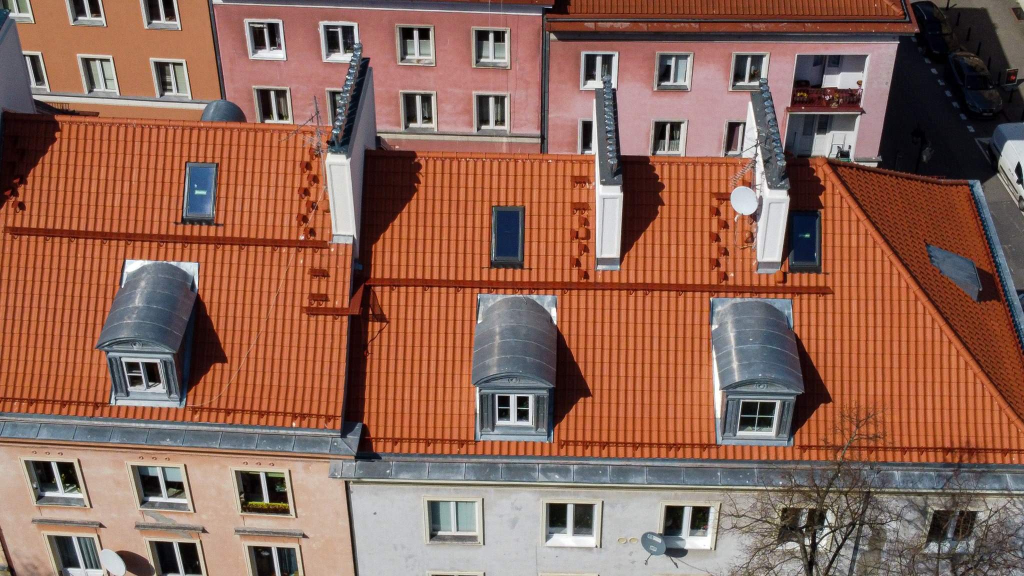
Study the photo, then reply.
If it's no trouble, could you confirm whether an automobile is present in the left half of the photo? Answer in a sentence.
No, there's no automobile to be seen in the left half of the photo.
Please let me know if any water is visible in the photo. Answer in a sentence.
No, water can't be seen anywhere here.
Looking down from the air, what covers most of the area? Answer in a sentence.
The scene is dominated by buildings.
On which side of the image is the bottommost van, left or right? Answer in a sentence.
You can find the bottommost van on the right side of the picture.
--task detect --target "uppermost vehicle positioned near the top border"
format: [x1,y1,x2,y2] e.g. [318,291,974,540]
[914,7,962,62]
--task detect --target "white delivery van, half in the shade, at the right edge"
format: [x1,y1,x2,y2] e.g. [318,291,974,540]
[990,120,1024,203]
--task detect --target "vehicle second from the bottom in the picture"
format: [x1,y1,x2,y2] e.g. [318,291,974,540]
[945,52,1007,119]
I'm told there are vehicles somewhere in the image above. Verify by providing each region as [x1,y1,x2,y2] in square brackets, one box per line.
[914,7,962,62]
[990,120,1024,203]
[945,52,1007,119]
